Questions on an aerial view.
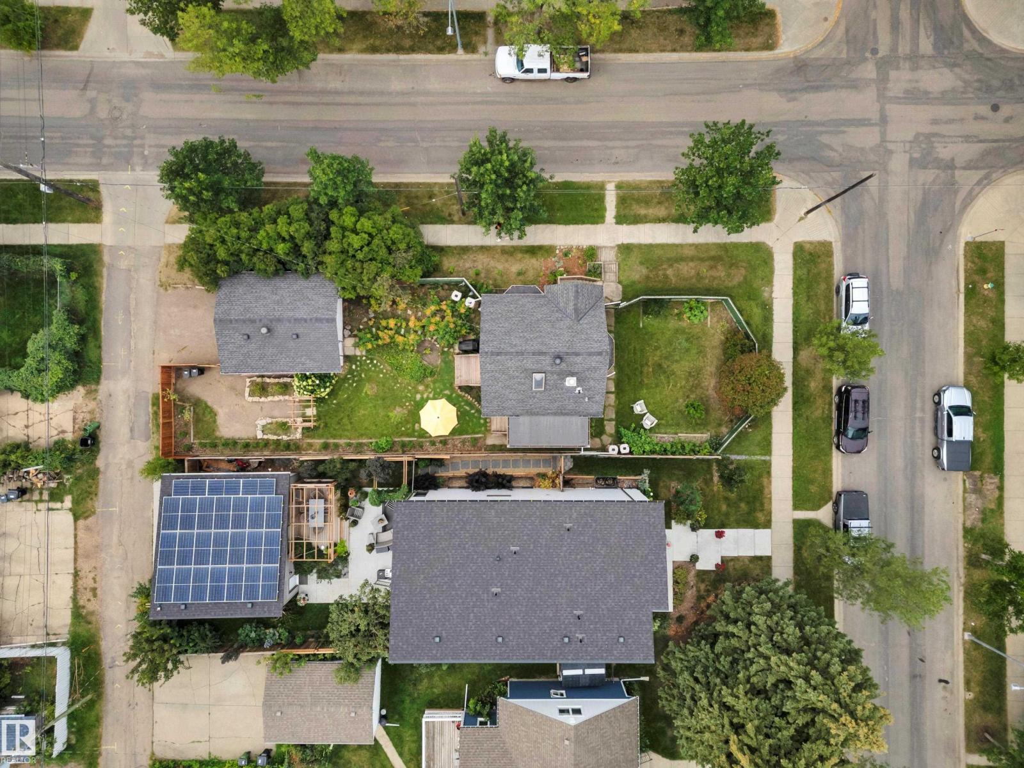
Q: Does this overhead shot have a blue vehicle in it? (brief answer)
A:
No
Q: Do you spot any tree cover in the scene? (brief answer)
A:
Yes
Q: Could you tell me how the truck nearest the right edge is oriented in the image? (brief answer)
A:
from top to bottom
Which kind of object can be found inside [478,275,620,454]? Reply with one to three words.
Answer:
house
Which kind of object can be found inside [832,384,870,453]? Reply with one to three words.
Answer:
car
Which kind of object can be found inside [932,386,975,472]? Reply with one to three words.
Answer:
truck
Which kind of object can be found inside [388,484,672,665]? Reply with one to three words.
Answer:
house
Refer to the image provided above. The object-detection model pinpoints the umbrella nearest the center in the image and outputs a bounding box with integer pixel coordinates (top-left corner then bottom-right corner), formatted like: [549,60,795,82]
[419,398,459,437]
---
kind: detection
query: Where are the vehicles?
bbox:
[832,384,870,453]
[832,489,874,574]
[496,44,589,83]
[932,386,975,472]
[833,267,871,334]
